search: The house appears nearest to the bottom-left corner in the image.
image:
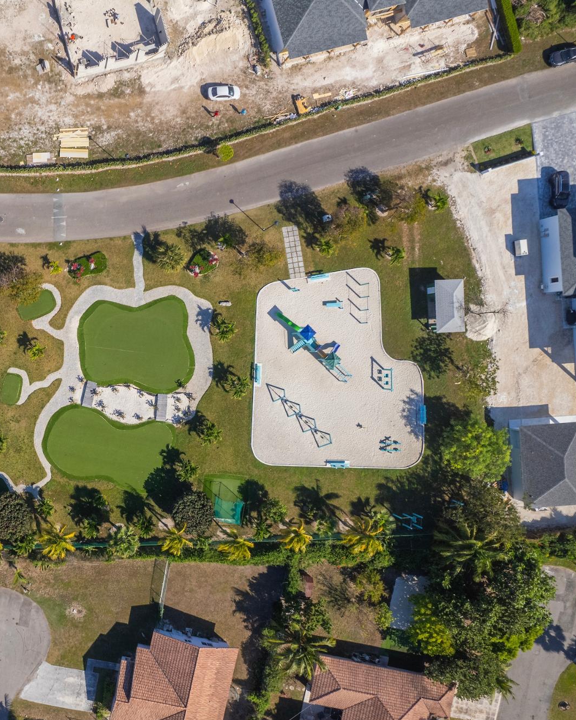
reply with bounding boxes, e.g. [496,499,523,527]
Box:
[105,626,238,720]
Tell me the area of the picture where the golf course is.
left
